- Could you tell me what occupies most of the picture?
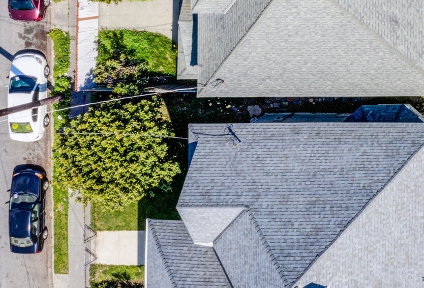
buildings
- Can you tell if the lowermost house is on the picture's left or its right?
right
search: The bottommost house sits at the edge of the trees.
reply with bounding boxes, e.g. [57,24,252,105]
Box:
[143,101,424,288]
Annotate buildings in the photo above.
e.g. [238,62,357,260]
[143,101,424,288]
[171,0,424,98]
